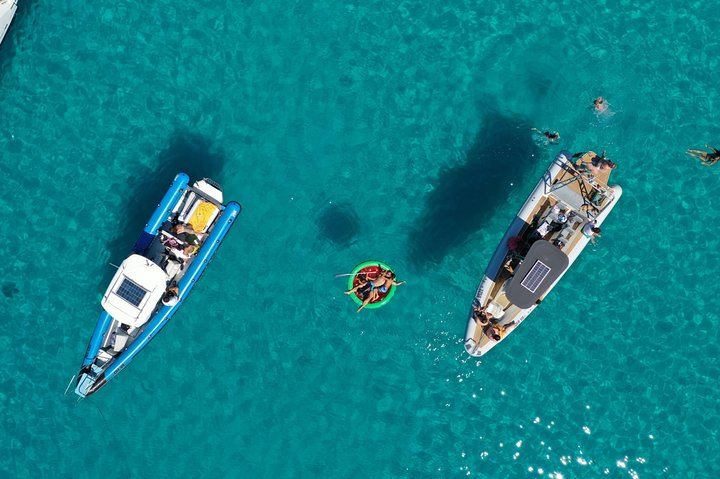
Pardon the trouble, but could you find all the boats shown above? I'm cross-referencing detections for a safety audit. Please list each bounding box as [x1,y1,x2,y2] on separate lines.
[461,152,617,357]
[65,174,241,402]
[0,0,22,43]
